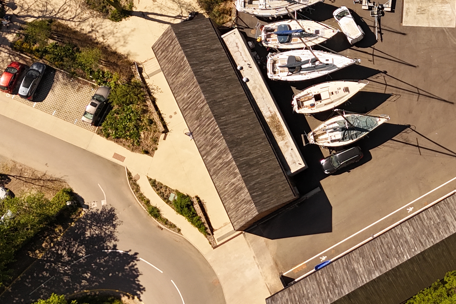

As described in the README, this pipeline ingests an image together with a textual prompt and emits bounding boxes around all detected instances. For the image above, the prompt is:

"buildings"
[152,18,310,231]
[265,190,456,304]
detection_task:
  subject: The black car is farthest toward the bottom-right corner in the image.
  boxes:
[320,144,365,177]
